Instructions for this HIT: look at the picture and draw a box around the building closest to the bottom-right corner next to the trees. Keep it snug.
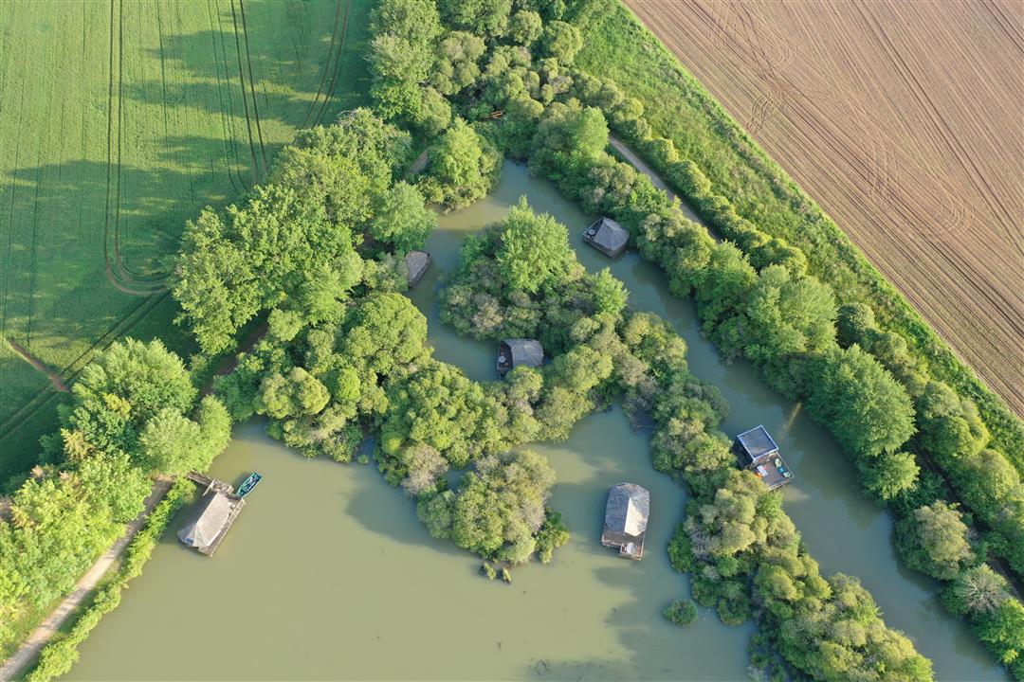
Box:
[733,425,797,495]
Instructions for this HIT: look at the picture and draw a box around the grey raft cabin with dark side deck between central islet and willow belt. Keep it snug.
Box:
[494,340,546,380]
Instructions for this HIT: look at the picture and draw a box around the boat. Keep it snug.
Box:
[233,472,262,500]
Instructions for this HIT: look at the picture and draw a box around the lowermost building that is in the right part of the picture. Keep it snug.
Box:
[602,484,645,562]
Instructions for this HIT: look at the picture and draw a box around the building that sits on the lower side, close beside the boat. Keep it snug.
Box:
[178,491,253,561]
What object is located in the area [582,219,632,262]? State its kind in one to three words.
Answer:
building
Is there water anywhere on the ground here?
Yes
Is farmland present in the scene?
Yes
